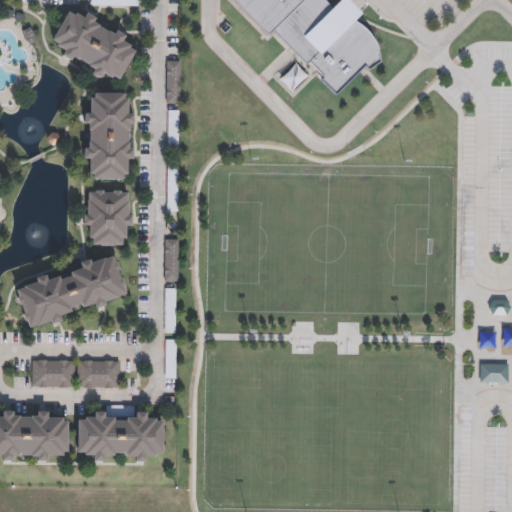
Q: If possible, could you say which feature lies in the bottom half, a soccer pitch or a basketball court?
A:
soccer pitch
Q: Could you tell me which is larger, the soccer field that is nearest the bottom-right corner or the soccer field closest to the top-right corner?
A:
the soccer field closest to the top-right corner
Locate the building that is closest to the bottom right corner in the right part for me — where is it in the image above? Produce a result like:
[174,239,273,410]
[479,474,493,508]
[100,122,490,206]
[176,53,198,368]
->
[480,362,508,384]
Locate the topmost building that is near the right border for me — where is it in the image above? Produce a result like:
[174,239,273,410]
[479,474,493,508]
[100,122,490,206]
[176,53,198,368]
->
[488,298,510,316]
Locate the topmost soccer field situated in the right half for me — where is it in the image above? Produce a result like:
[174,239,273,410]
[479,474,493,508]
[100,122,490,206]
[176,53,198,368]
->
[218,166,437,324]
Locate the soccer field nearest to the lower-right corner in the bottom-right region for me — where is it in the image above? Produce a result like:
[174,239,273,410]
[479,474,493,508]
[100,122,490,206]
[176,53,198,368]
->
[344,358,444,508]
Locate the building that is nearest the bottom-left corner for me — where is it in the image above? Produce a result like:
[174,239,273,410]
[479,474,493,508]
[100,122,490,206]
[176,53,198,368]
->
[0,410,70,461]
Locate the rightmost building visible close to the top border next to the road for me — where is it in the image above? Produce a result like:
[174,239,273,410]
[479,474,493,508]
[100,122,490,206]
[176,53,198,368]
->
[235,0,381,94]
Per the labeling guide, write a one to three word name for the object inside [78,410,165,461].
building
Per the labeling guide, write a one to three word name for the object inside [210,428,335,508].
soccer field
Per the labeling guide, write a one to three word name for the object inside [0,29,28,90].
swimming pool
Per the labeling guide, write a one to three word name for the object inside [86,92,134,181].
building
